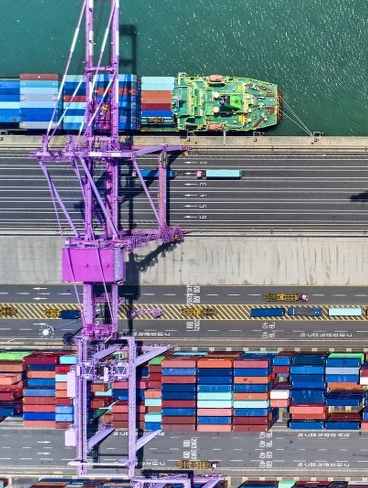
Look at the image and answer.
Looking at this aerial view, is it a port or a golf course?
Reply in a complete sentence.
The picture captures a port.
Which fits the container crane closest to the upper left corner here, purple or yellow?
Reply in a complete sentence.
The color of the container crane closest to the upper left corner is purple.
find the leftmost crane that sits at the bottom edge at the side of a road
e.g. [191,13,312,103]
[66,336,177,477]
